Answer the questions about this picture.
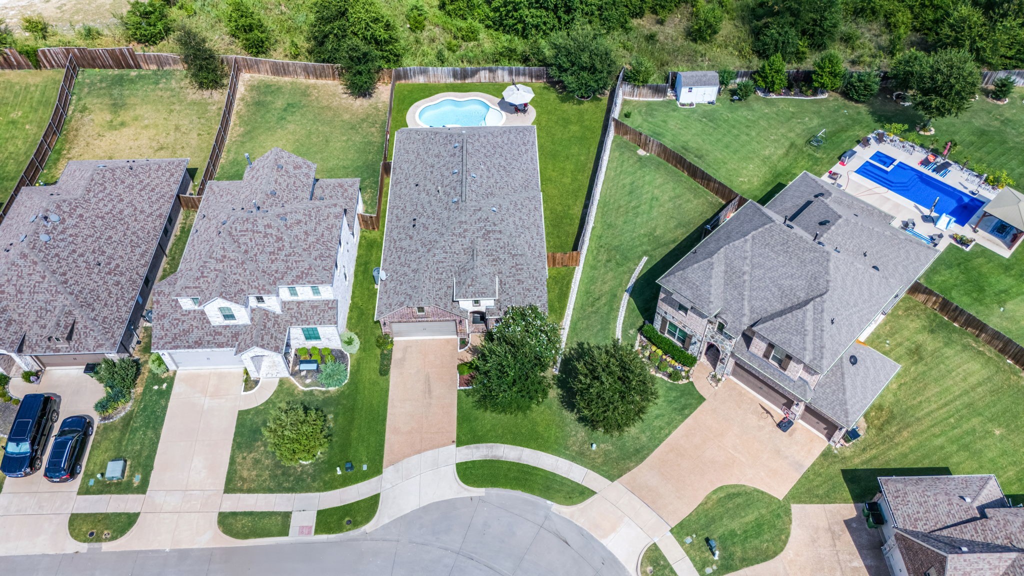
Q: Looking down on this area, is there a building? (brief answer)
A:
Yes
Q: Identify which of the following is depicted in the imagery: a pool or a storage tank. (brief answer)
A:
pool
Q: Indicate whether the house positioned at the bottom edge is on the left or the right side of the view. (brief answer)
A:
right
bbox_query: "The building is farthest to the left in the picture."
[0,156,197,376]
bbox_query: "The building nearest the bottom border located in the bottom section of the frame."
[869,472,1024,576]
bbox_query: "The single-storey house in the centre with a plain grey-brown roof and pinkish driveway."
[373,125,551,342]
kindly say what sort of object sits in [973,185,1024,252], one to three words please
building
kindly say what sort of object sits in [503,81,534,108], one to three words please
umbrella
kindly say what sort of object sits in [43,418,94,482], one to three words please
car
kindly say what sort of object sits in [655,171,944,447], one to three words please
house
